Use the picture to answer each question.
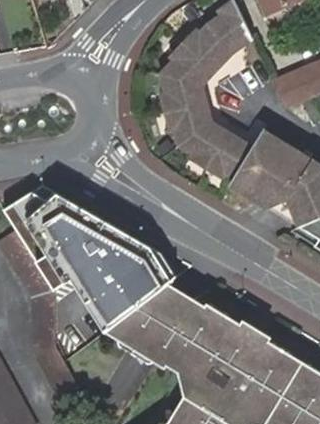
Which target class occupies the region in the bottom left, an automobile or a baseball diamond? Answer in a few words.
automobile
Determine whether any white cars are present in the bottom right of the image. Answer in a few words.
No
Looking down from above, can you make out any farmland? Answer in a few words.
No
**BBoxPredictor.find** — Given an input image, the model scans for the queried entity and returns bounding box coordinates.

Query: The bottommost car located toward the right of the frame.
[220,92,241,108]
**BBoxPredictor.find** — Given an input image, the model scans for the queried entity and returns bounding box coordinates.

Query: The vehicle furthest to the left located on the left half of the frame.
[64,324,81,344]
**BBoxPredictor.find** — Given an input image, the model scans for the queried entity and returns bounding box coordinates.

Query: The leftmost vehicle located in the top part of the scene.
[110,135,128,156]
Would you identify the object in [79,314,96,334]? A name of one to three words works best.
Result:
car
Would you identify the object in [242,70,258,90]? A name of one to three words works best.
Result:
car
